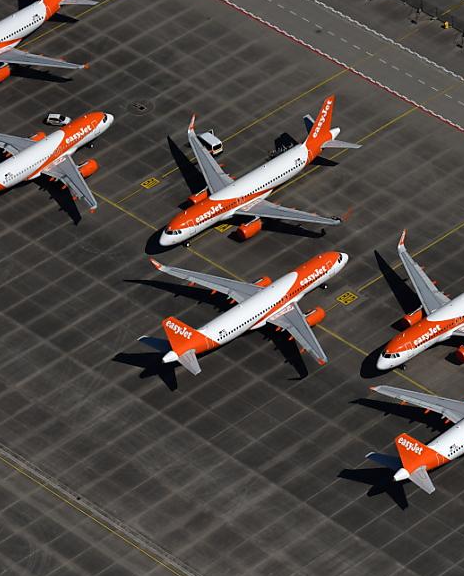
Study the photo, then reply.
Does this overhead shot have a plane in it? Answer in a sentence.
Yes, the picture does show a plane.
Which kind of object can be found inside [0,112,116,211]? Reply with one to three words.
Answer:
airplane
